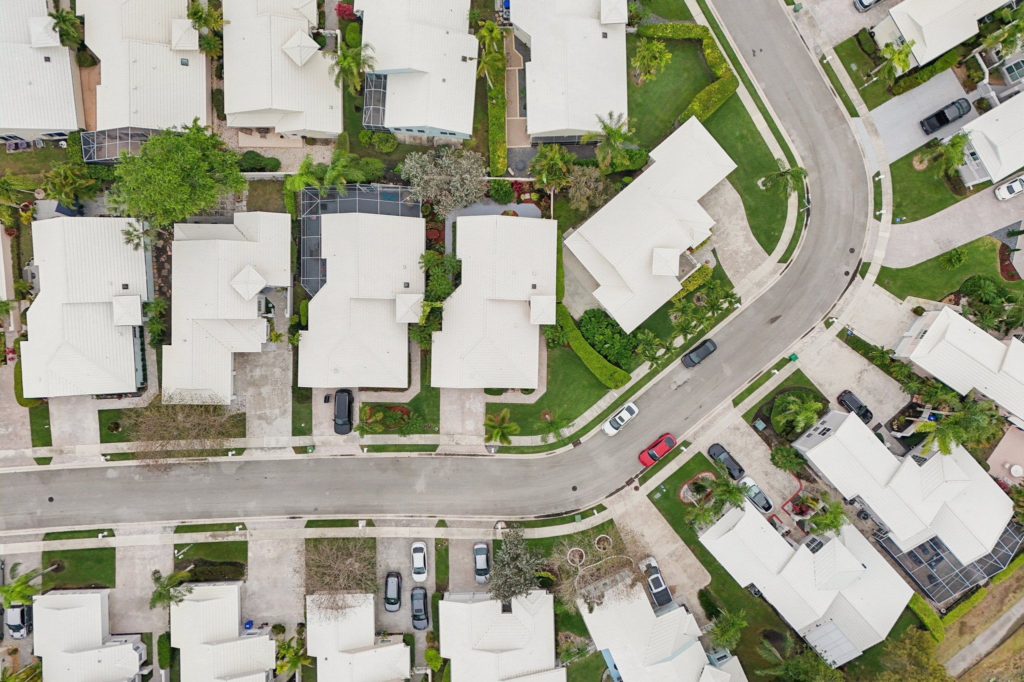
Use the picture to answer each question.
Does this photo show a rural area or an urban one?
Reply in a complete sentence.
This place is urban.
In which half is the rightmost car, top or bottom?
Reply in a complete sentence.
It is in the top half that the rightmost car appears.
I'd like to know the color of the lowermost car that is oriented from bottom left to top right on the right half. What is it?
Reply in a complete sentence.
The color of the lowermost car that is oriented from bottom left to top right on the right half is red.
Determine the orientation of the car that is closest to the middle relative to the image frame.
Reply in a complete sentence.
The car that is closest to the middle runs at an angle in the image.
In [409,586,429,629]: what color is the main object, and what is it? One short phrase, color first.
gray car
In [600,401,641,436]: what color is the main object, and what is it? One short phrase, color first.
white car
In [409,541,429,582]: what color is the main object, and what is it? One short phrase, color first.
white car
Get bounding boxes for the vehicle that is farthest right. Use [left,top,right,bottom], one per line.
[991,174,1024,201]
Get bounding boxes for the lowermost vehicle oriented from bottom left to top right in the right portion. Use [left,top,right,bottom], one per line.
[638,433,677,467]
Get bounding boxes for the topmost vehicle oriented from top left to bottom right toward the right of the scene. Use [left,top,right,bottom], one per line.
[834,389,873,426]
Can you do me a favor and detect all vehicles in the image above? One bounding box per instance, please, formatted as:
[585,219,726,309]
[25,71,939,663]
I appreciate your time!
[738,475,775,515]
[679,337,720,370]
[917,96,972,136]
[638,433,677,467]
[409,586,429,629]
[6,590,32,639]
[332,390,353,434]
[991,174,1024,201]
[708,442,746,480]
[472,542,492,584]
[383,571,403,612]
[600,401,641,436]
[409,541,429,582]
[834,389,873,426]
[641,556,673,609]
